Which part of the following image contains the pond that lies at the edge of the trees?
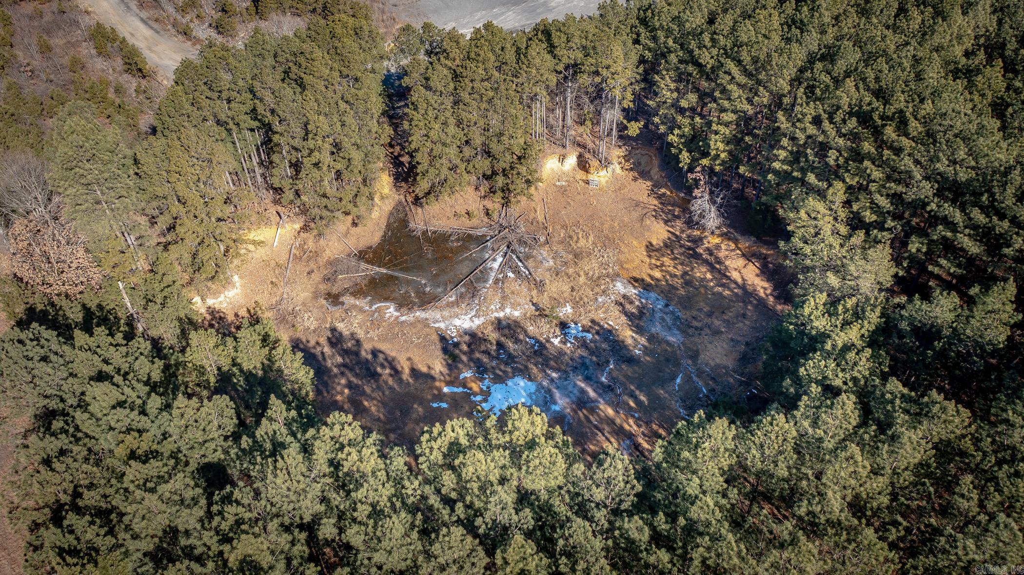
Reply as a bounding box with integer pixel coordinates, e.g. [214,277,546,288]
[324,217,519,313]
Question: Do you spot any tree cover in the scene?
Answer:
Yes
